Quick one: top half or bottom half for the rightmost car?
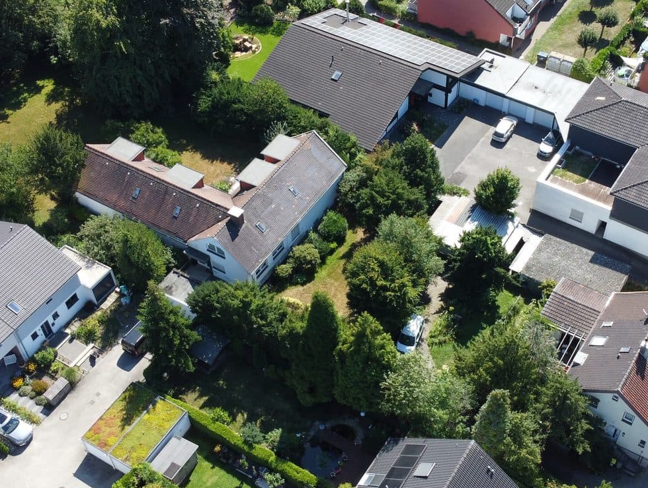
top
